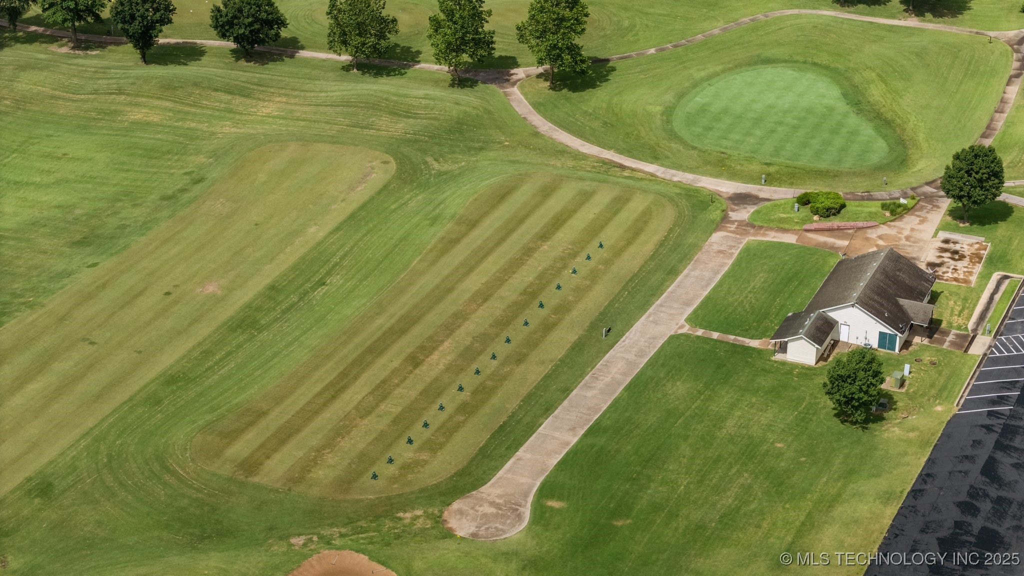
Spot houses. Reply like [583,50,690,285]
[770,248,940,366]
